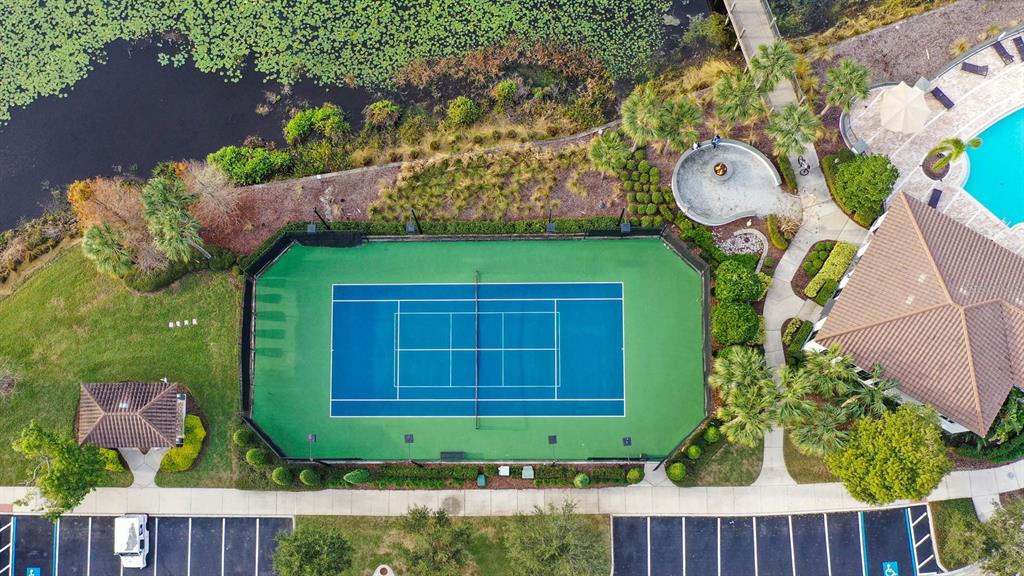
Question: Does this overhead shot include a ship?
No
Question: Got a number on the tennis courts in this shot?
one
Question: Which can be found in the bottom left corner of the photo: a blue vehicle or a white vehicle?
white vehicle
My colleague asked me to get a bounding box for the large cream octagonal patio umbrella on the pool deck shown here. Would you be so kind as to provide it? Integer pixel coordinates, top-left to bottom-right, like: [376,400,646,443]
[880,82,930,134]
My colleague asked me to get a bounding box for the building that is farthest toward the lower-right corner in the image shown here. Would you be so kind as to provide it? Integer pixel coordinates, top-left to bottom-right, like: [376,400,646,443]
[808,190,1024,437]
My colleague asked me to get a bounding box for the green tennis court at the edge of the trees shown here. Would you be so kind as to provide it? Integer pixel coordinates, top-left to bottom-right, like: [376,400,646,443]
[252,237,707,460]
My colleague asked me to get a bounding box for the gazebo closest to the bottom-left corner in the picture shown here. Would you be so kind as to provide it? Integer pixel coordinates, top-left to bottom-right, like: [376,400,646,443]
[78,383,184,449]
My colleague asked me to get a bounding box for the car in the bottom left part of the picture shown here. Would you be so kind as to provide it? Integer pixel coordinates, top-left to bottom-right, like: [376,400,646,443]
[115,513,150,569]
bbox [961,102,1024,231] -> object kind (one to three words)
swimming pool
